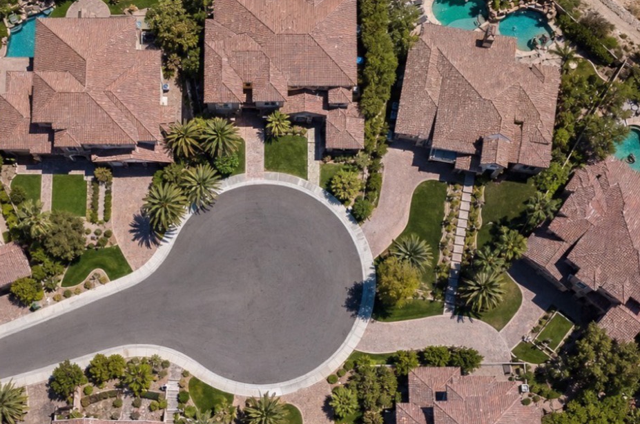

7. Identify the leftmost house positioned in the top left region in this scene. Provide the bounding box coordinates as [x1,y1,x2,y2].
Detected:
[0,16,176,168]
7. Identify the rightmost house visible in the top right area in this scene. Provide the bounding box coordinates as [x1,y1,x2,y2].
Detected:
[394,17,561,179]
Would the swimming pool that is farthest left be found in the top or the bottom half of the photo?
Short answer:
top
